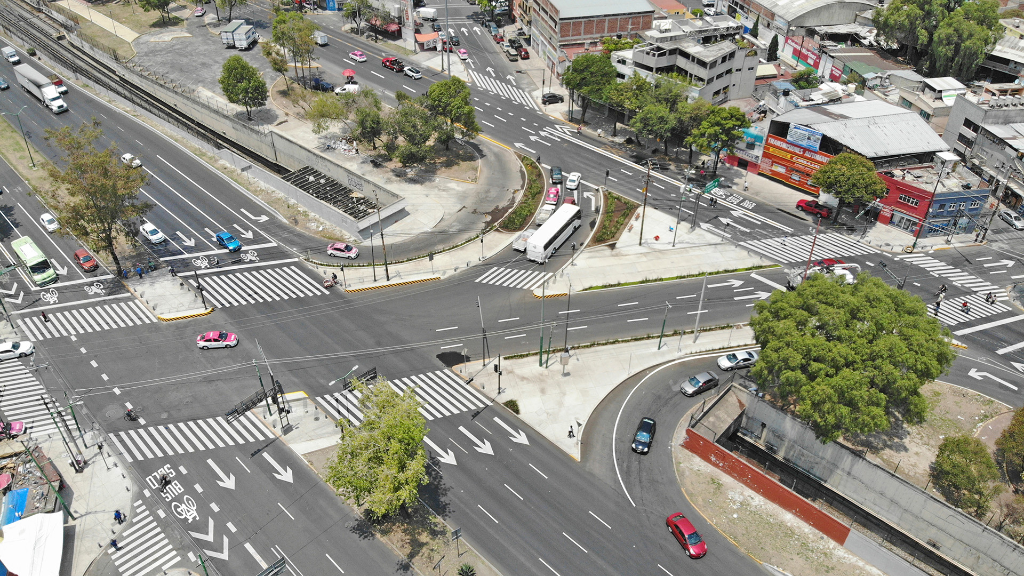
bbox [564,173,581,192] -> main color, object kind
white car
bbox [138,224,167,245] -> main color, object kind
white car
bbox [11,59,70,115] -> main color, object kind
white truck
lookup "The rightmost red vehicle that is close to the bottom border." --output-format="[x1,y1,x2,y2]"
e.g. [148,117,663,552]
[667,512,705,561]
